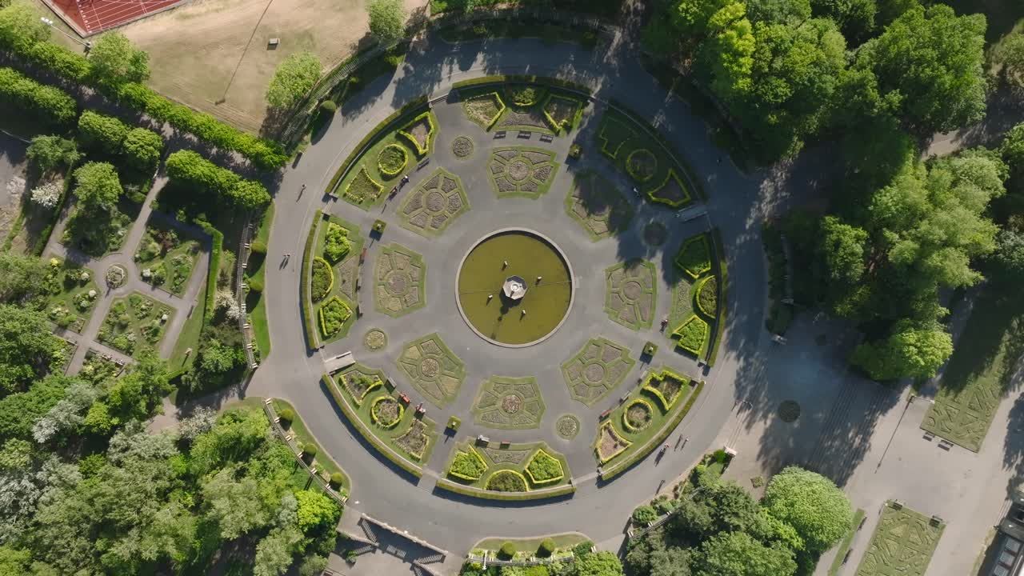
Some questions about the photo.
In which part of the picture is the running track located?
top left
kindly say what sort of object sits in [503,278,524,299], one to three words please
fountain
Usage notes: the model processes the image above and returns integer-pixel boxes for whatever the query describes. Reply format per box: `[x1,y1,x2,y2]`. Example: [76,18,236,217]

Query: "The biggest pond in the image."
[456,229,573,346]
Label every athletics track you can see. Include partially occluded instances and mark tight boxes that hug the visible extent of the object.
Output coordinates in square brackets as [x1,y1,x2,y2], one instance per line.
[45,0,193,40]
